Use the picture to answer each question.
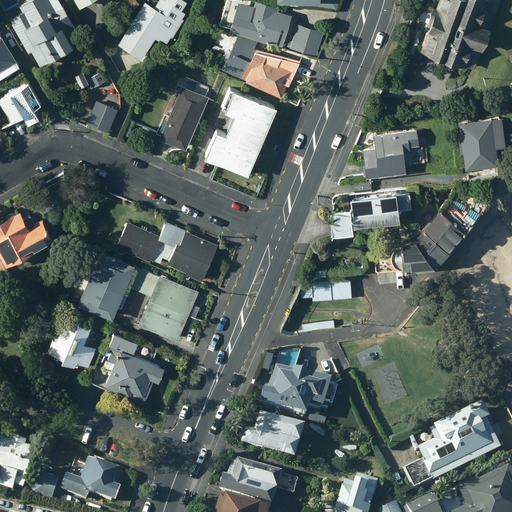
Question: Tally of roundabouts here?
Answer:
none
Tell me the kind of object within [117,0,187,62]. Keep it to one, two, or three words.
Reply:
house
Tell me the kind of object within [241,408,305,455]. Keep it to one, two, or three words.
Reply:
house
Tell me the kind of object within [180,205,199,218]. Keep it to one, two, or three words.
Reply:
vehicle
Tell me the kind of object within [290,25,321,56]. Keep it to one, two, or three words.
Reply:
building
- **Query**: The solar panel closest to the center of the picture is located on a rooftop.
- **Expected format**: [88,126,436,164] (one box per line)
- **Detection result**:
[352,201,373,216]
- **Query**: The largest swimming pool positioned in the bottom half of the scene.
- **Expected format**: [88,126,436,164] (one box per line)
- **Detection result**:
[276,348,300,366]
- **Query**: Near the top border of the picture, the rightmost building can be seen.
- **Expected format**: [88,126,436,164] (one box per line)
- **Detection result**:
[421,0,500,72]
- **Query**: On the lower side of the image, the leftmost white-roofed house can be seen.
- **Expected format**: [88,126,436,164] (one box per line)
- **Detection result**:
[0,431,30,488]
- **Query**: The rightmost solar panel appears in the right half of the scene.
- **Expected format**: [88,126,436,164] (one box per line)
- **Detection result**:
[381,198,397,213]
